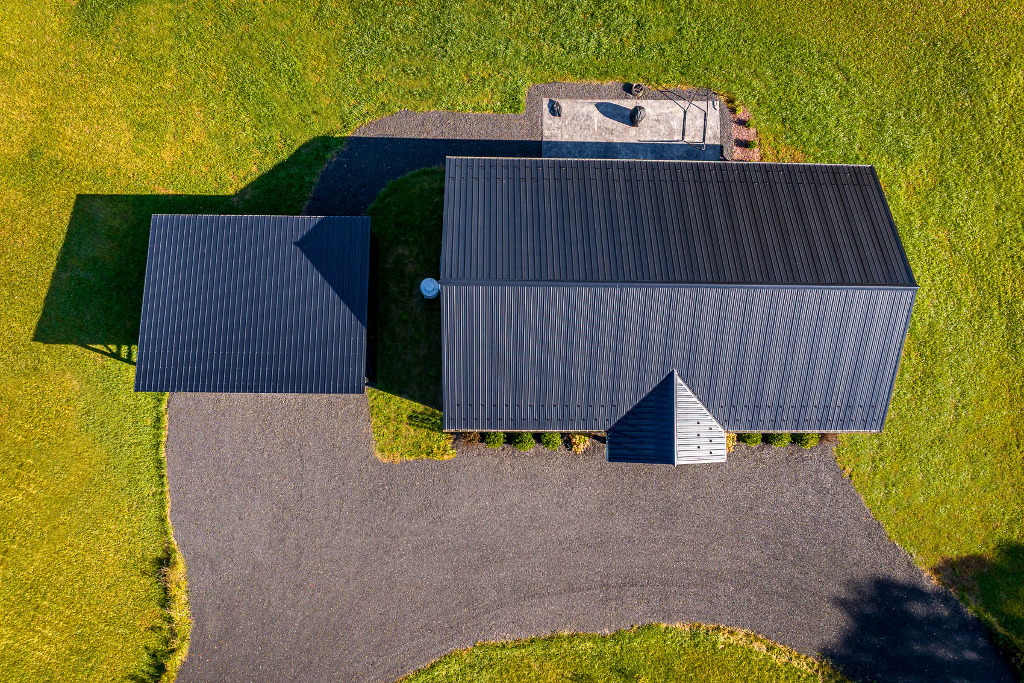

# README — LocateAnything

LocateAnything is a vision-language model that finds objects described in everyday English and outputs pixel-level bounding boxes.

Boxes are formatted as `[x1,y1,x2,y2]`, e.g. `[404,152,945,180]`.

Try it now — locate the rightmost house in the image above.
[439,156,922,466]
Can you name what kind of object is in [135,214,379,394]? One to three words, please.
shed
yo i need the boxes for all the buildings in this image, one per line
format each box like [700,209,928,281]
[135,214,379,394]
[439,156,922,466]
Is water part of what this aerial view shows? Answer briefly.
No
